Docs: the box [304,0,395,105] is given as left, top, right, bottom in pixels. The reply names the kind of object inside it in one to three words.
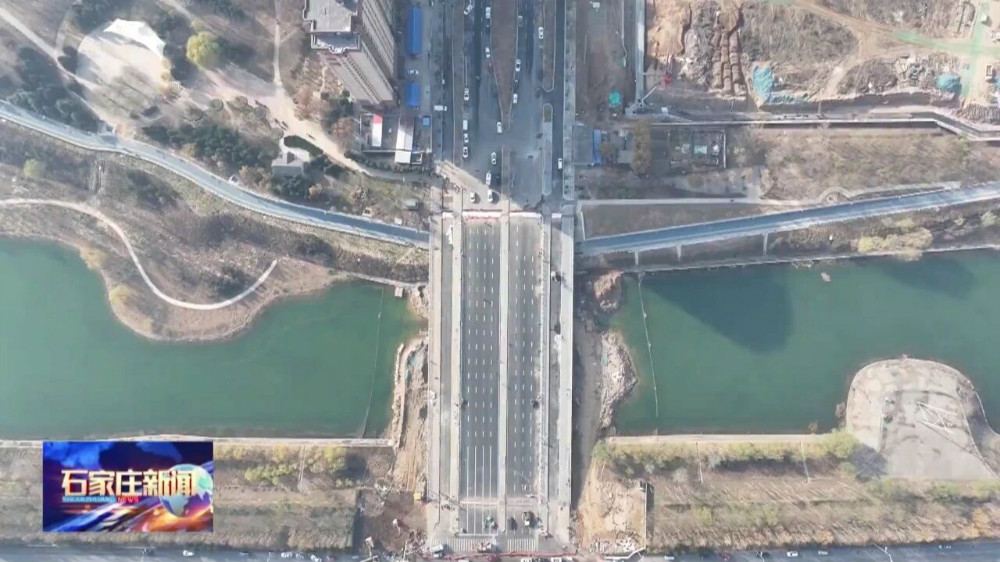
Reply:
building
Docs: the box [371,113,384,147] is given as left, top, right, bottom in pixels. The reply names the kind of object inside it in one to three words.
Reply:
shed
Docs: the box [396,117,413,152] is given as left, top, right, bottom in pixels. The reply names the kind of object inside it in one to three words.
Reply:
building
